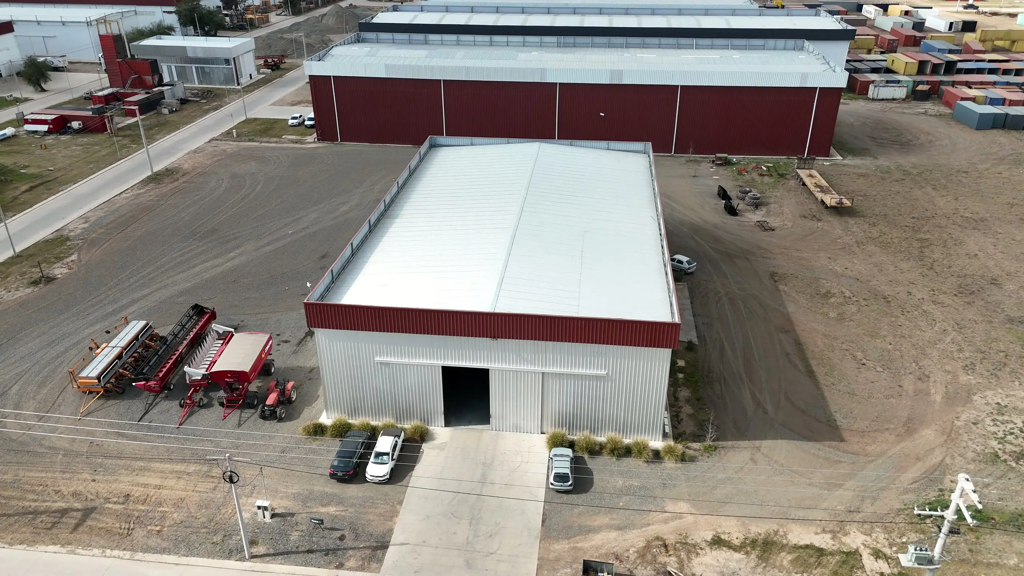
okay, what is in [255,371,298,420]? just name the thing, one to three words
work vehicle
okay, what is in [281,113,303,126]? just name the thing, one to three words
vehicle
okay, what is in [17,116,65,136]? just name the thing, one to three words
trailer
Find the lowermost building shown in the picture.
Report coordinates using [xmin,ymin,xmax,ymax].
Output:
[303,136,682,446]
